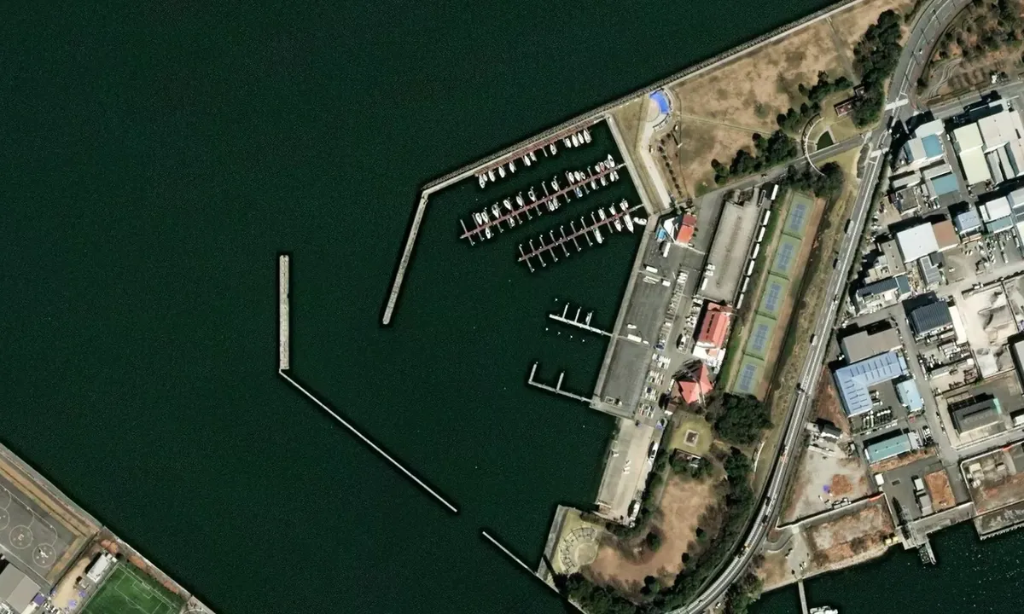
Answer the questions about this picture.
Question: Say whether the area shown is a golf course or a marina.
marina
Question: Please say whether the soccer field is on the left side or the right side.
left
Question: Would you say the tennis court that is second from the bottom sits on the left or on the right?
right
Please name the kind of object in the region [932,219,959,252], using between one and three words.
building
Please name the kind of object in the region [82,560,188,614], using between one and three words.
soccer field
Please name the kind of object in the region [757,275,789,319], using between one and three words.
tennis court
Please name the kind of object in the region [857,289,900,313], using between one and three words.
building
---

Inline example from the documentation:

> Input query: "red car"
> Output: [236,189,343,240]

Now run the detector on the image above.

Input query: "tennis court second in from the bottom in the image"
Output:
[745,315,776,360]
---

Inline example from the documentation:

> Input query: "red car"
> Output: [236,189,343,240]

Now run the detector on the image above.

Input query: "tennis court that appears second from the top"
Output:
[770,235,801,279]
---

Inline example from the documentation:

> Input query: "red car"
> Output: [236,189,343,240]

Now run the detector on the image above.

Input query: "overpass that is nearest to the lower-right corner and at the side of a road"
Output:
[675,347,824,614]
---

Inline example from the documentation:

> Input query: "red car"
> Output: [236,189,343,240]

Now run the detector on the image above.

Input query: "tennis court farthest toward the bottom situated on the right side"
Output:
[732,356,763,398]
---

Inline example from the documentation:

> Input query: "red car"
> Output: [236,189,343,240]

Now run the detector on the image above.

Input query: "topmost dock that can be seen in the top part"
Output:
[476,123,595,180]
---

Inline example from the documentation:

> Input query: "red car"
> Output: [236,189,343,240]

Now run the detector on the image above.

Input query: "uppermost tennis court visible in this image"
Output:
[783,193,813,239]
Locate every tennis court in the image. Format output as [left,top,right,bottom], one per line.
[757,275,789,319]
[732,356,763,398]
[745,315,776,360]
[770,235,801,279]
[783,193,813,239]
